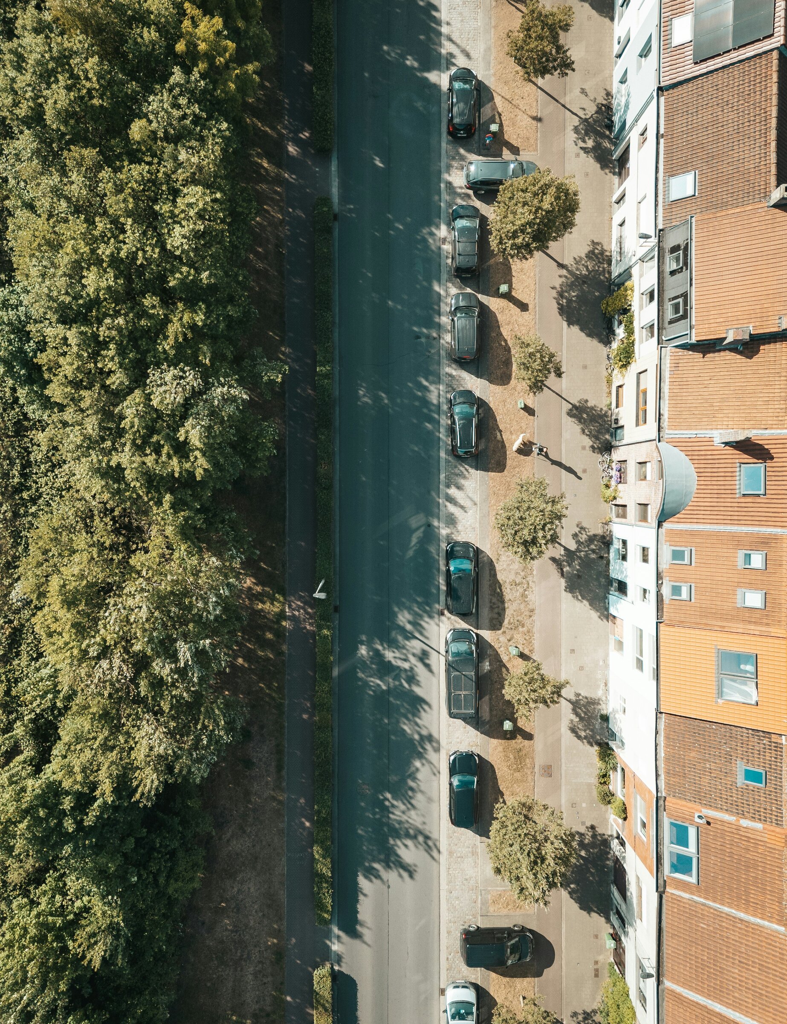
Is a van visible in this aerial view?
Yes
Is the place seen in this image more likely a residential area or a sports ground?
residential area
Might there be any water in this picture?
No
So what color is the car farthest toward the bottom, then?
white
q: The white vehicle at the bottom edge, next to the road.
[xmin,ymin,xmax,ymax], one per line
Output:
[443,979,479,1024]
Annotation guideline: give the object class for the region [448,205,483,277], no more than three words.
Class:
car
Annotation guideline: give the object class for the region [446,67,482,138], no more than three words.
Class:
car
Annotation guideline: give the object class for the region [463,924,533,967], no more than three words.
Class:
van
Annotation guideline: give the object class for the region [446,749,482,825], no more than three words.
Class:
vehicle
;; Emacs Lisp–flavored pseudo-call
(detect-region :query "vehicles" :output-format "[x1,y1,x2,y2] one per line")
[446,67,482,138]
[446,749,482,825]
[448,205,483,277]
[443,979,479,1024]
[463,924,533,967]
[447,292,484,362]
[463,155,538,194]
[443,627,481,717]
[447,390,482,457]
[443,541,480,615]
